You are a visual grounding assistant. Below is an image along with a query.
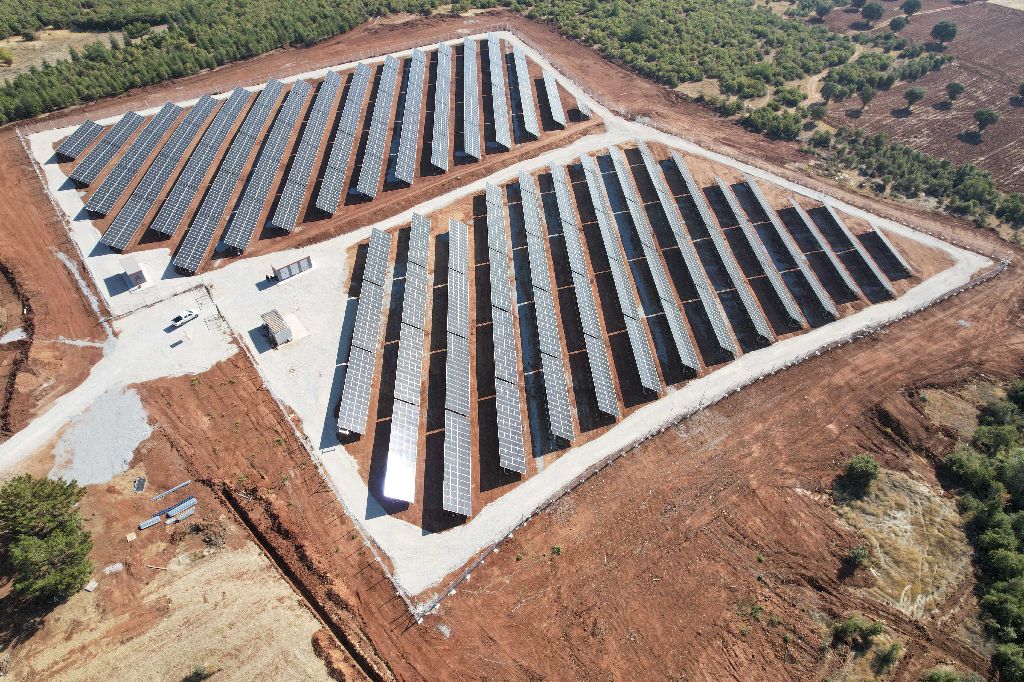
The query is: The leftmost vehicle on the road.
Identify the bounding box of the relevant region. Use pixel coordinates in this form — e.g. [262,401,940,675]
[171,308,200,326]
